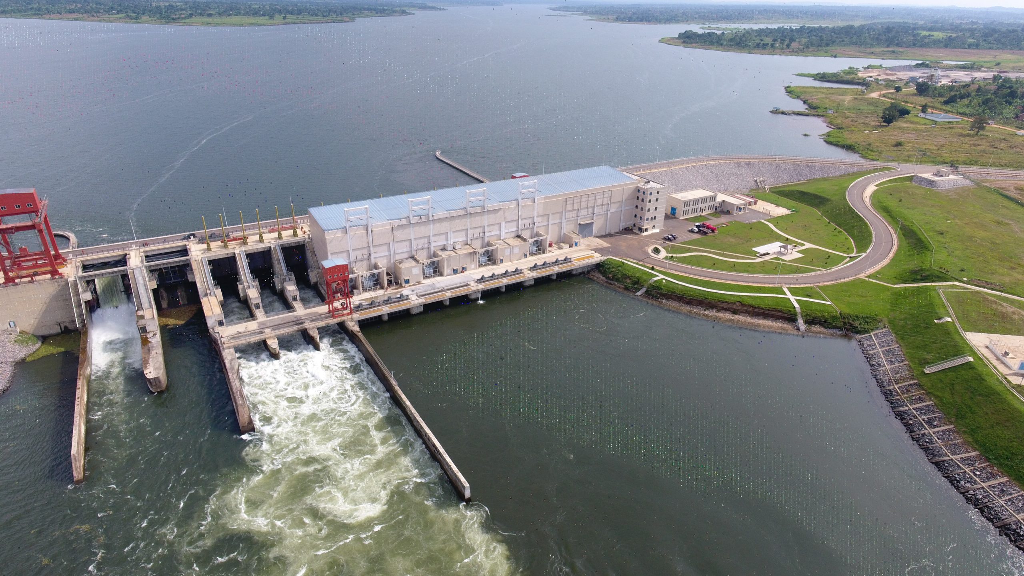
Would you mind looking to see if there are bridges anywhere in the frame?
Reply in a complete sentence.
Yes, this view includes a bridge.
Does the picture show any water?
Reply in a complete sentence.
Yes, there's water in this view.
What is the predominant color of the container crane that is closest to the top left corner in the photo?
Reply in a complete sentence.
The container crane that is closest to the top left corner is red.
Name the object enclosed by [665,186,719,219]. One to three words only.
building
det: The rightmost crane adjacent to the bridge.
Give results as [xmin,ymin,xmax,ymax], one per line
[319,257,354,319]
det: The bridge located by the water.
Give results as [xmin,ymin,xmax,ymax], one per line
[210,298,352,351]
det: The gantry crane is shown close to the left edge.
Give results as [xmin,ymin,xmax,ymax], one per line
[0,181,68,285]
